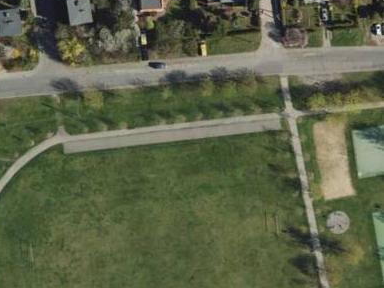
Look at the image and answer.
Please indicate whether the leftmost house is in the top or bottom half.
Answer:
top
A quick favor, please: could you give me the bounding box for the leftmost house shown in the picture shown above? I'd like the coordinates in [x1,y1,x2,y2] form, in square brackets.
[0,8,24,39]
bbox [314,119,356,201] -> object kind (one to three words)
sports court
